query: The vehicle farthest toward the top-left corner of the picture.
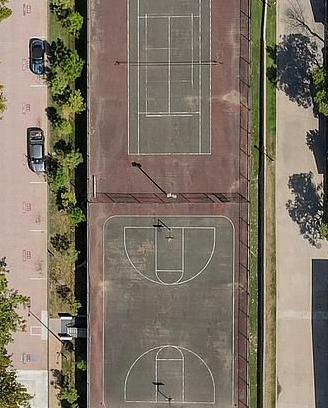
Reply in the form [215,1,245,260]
[30,38,46,74]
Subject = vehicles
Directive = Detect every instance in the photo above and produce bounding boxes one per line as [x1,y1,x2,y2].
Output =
[30,38,46,74]
[28,130,45,172]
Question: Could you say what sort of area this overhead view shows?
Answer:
sports ground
